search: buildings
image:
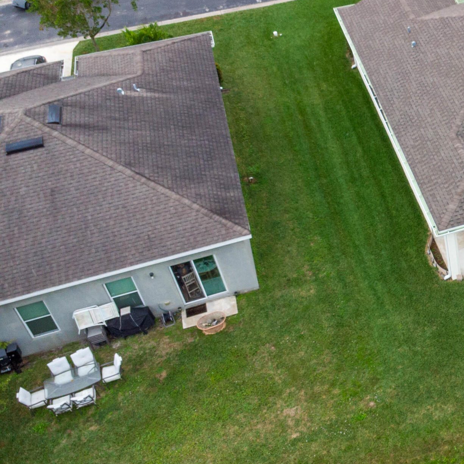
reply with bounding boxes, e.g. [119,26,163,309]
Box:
[334,0,464,285]
[0,30,259,356]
